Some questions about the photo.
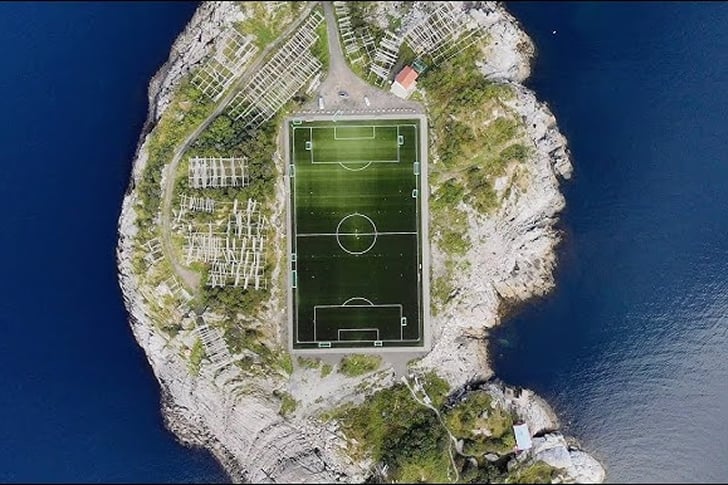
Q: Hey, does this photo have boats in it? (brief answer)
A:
No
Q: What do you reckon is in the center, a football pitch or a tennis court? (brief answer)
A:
football pitch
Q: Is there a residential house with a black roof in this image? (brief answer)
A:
No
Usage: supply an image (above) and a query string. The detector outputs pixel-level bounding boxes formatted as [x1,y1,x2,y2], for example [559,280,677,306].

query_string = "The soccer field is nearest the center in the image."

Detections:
[284,114,431,353]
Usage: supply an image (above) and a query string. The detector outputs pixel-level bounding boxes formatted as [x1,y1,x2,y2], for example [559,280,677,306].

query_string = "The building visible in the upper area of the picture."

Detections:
[390,64,419,97]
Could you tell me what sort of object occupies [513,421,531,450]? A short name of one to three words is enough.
building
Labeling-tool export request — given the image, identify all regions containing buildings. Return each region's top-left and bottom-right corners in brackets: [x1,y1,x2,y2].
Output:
[390,64,419,97]
[513,421,531,450]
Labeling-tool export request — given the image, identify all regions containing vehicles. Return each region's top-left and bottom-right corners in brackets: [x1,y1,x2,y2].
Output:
[363,96,370,106]
[338,91,348,97]
[318,96,324,109]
